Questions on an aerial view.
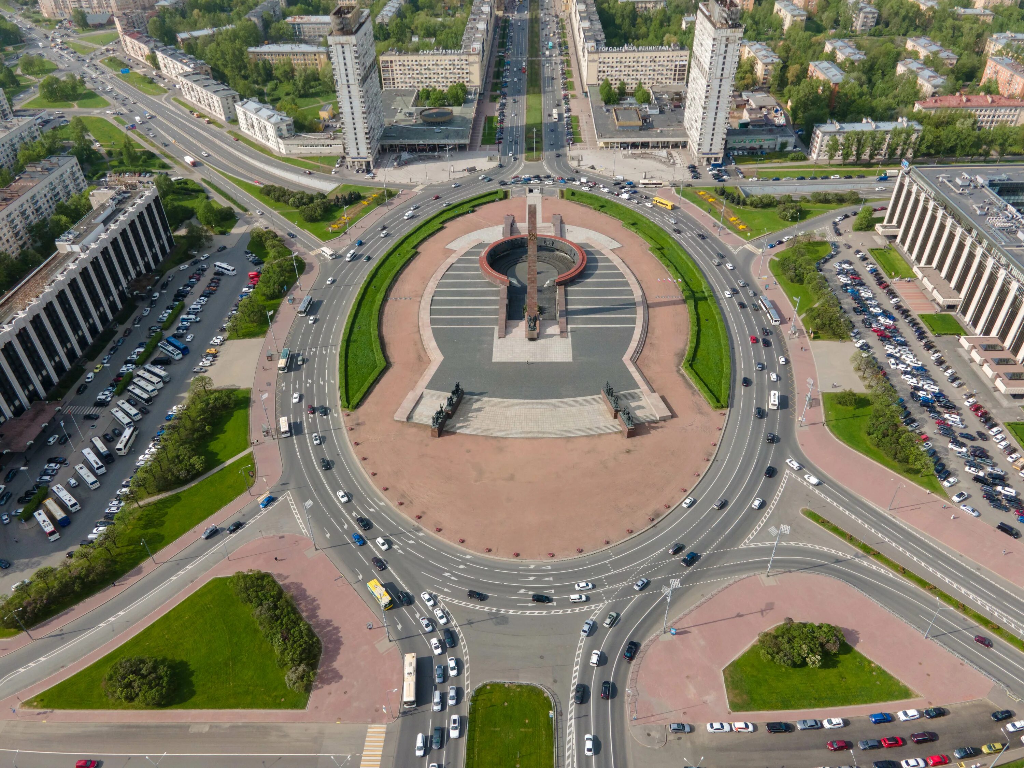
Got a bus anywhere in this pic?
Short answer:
Yes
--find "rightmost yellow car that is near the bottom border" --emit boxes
[979,742,1006,755]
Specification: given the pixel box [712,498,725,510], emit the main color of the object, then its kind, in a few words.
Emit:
gray vehicle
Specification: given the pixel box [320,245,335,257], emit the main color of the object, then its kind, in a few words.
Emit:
white vehicle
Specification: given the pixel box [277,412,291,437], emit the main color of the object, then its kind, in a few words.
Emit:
white vehicle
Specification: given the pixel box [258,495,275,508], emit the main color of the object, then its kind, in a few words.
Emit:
blue vehicle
